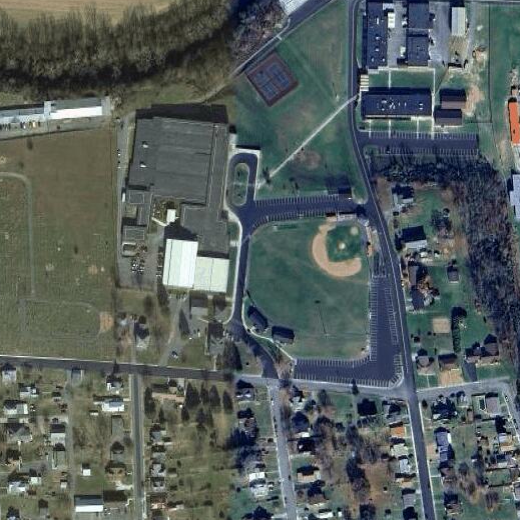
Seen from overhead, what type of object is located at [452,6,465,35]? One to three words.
shed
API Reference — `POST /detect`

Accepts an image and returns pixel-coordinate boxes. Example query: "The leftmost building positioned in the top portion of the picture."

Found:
[0,100,109,127]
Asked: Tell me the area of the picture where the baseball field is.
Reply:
center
